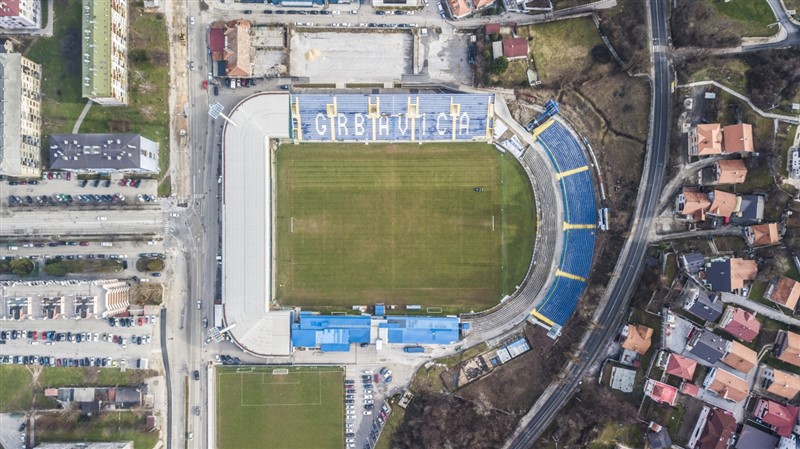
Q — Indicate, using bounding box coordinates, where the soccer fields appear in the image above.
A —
[274,138,538,314]
[217,366,345,449]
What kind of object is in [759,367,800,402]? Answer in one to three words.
house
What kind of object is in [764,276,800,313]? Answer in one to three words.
house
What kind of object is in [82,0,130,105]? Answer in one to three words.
building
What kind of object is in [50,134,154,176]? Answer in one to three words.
building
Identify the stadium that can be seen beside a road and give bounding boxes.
[220,75,597,358]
